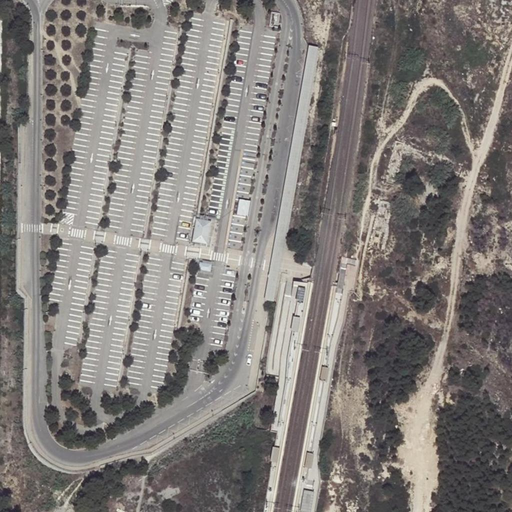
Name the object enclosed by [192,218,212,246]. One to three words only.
building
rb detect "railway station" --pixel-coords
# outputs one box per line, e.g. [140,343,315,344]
[256,242,358,512]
